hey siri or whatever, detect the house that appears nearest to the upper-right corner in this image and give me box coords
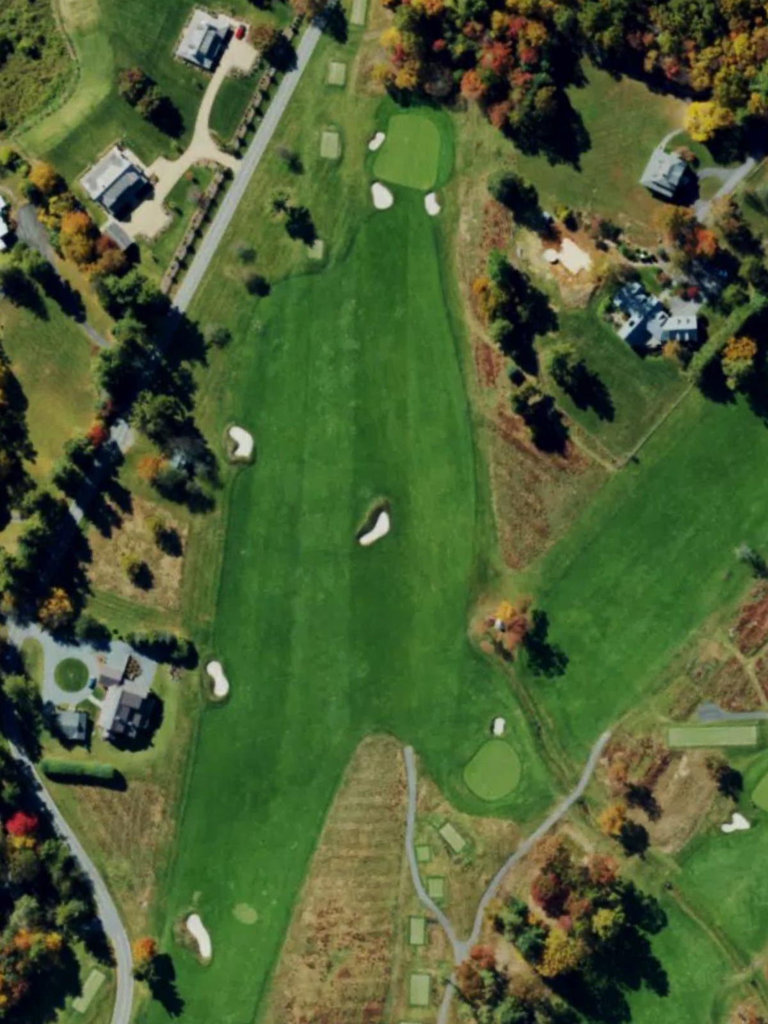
[642,148,684,198]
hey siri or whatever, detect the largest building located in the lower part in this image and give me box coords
[98,657,142,736]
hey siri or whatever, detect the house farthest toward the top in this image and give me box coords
[177,11,230,70]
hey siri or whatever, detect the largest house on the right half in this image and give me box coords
[612,283,698,348]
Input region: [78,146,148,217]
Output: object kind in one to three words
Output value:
house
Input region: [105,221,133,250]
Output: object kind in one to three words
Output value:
building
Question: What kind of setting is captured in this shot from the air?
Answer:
golf course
